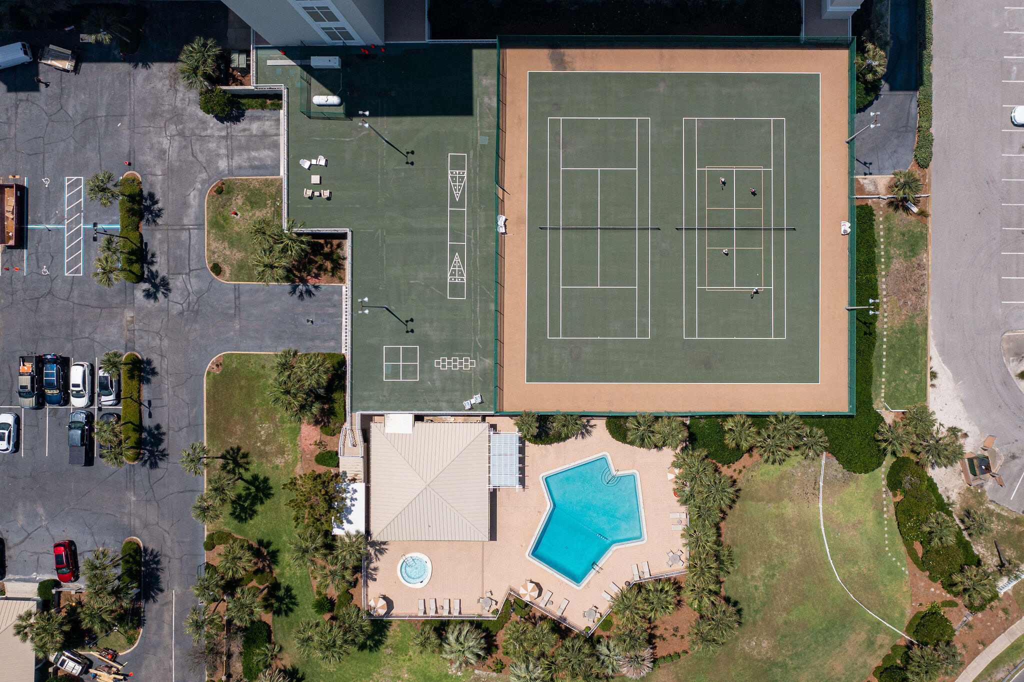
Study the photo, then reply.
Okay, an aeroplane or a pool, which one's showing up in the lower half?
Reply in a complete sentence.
The one visible in the lower half is a pool.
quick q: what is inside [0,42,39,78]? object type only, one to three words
van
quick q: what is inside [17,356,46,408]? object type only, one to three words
truck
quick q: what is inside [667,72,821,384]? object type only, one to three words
tennis court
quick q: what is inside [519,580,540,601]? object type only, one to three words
umbrella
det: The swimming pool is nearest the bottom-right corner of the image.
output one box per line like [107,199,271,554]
[527,453,647,588]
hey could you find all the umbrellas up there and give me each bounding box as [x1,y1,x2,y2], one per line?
[519,580,540,601]
[665,464,682,485]
[368,595,388,616]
